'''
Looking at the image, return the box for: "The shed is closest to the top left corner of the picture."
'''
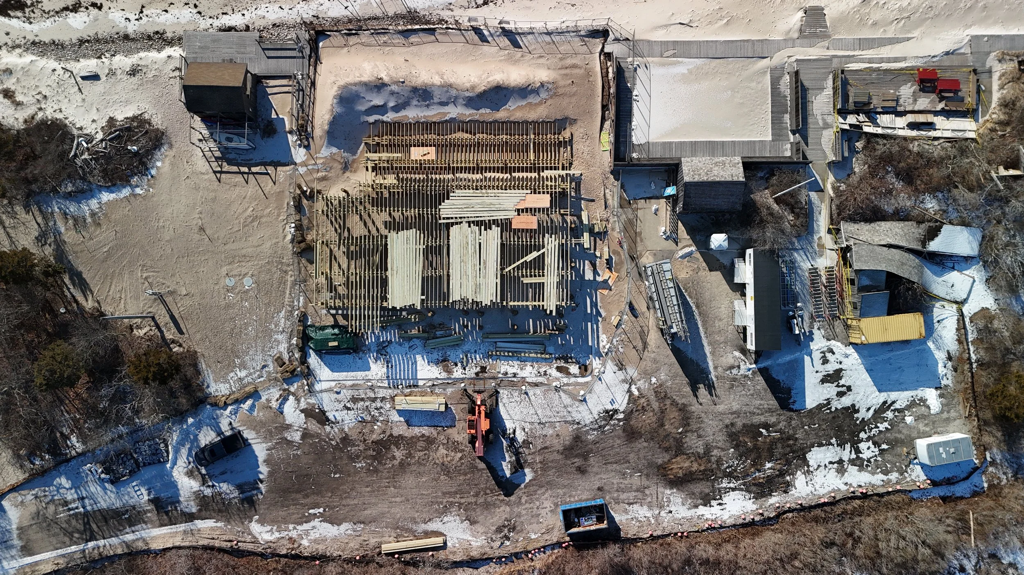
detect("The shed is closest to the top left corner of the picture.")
[173,61,257,115]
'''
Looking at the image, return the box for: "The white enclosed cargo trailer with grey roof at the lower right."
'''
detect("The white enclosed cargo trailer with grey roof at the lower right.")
[900,433,974,466]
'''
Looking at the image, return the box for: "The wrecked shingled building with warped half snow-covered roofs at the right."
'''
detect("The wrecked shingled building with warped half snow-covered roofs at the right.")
[836,221,982,319]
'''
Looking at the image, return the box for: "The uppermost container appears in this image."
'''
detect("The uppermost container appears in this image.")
[847,312,925,344]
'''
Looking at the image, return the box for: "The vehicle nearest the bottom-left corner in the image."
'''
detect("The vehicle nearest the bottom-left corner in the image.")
[191,428,253,470]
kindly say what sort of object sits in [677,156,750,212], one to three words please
shed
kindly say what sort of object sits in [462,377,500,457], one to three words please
work vehicle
